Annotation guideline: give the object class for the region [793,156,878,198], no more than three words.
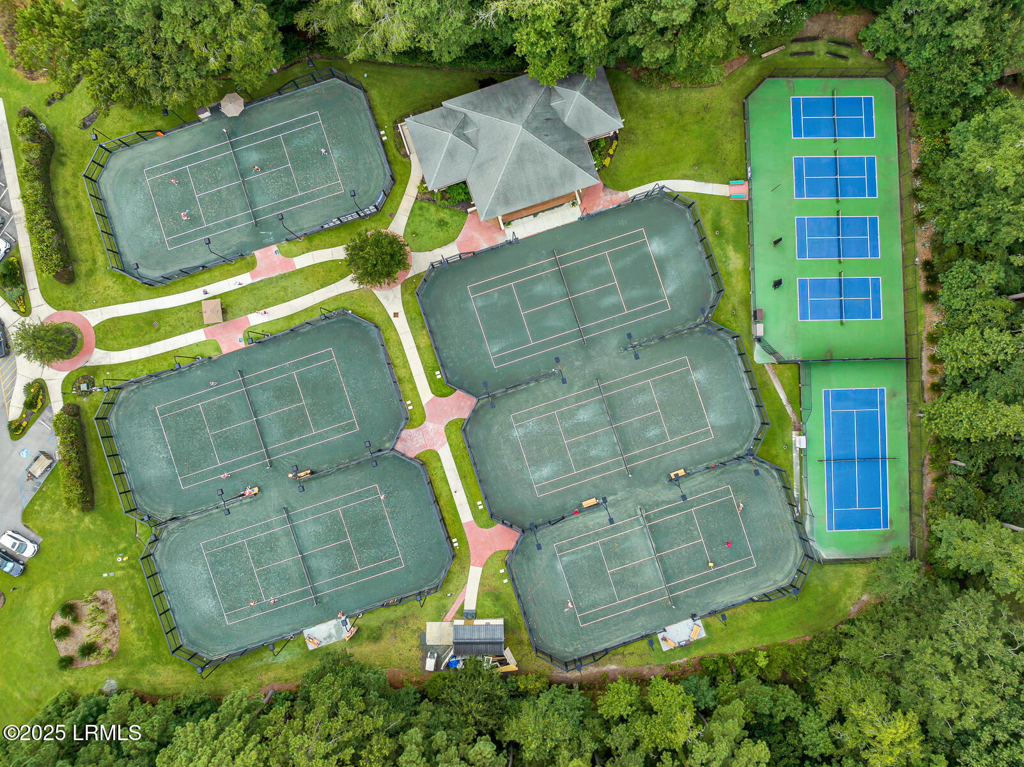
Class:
tennis court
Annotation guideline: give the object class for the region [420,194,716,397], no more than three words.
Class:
tennis court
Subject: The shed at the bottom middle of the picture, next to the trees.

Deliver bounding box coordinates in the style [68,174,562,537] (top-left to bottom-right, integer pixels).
[451,618,504,656]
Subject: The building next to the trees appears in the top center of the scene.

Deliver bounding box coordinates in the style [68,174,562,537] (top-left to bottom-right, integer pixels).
[396,55,627,230]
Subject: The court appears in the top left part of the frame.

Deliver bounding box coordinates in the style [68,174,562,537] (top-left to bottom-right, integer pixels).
[98,79,392,284]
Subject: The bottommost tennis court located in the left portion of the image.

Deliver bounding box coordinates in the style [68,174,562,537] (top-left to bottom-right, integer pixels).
[153,452,453,658]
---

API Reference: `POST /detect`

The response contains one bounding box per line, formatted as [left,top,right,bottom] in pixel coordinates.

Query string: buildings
[451,618,504,656]
[396,55,627,230]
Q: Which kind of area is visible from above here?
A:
sports ground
